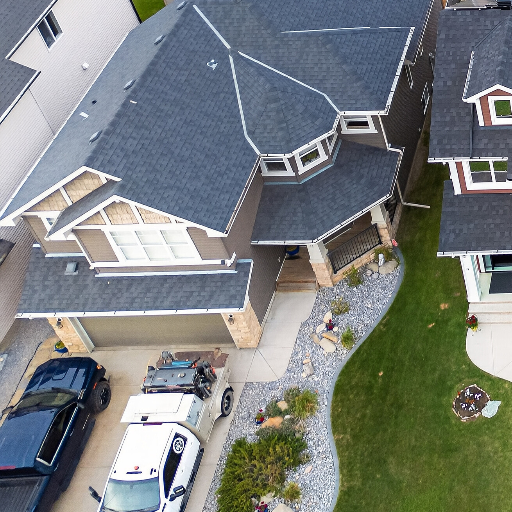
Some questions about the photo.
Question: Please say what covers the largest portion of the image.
buildings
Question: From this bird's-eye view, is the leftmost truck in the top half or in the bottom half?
bottom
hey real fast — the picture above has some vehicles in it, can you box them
[0,360,111,512]
[87,348,233,512]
